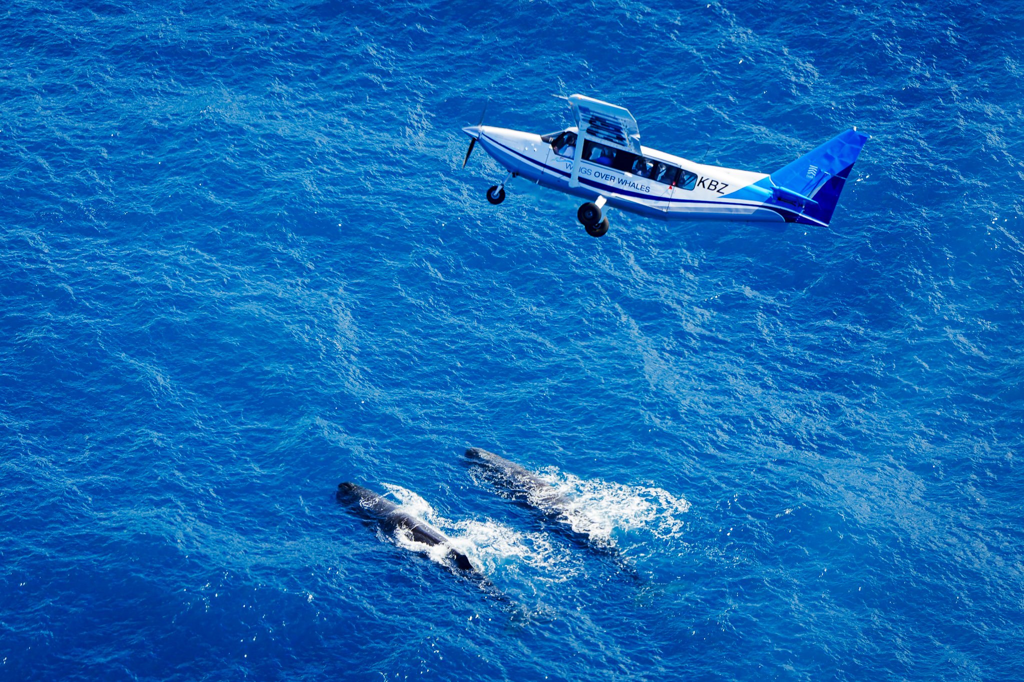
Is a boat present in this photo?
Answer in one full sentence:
No, there isn't any boat down there.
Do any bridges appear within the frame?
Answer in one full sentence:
No, no bridge can be seen from above.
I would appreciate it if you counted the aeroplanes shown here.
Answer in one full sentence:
My tally gives 1 aeroplane in this photo.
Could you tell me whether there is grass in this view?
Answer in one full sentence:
No, grass can't be seen anywhere here.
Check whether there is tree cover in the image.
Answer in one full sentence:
No, there is no tree cover in the image.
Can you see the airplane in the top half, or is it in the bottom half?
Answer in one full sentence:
It is in the top half that the airplane appears.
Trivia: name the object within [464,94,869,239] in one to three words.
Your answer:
airplane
